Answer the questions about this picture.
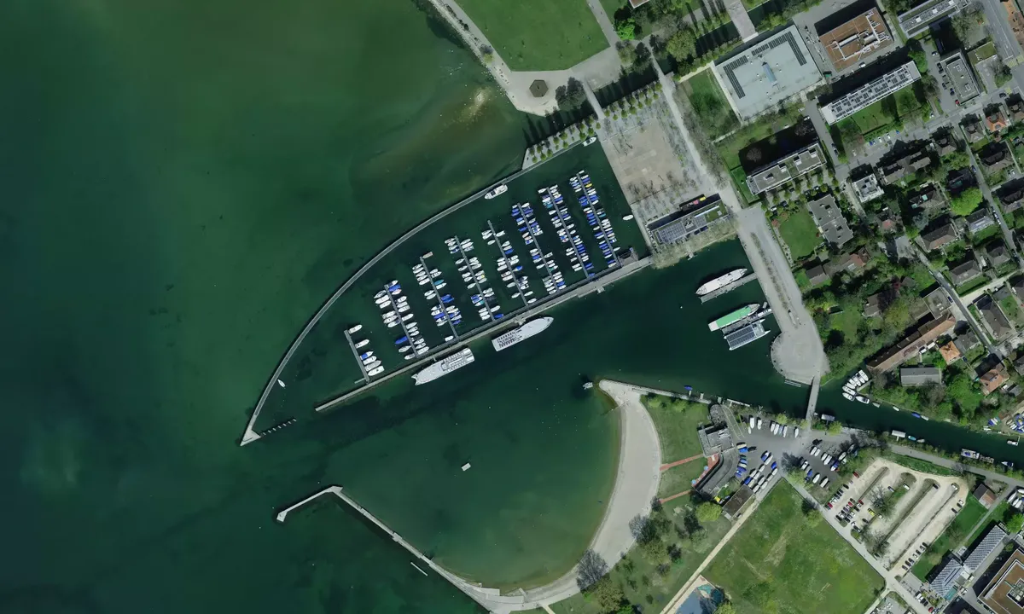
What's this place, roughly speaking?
port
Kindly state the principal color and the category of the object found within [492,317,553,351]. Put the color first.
white ship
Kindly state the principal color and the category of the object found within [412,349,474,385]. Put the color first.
white ship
